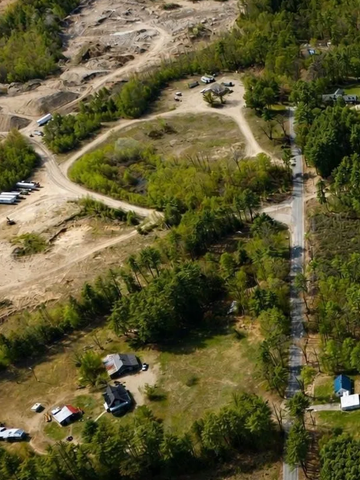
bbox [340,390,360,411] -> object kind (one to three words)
building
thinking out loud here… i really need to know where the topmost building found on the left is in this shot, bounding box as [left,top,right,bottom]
[105,352,141,382]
